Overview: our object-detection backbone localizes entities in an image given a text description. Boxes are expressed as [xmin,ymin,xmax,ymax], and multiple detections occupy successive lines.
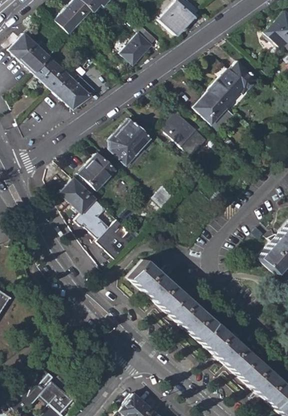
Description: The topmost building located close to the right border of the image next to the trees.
[258,9,288,52]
